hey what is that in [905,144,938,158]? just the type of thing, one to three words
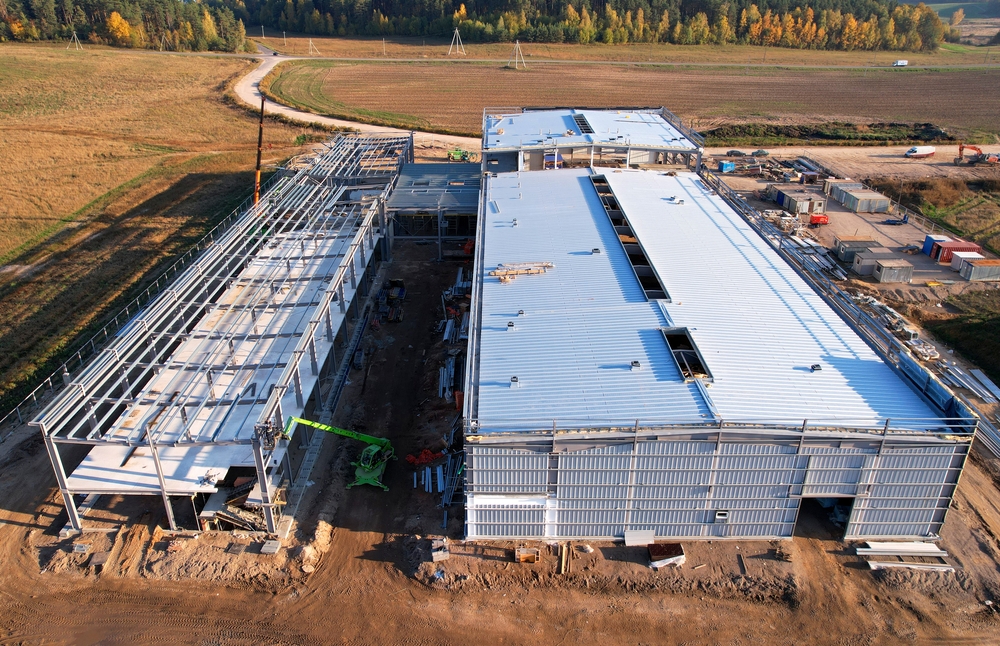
vehicle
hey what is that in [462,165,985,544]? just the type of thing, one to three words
building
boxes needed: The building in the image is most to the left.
[25,128,416,545]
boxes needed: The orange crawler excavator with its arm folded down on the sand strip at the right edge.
[956,142,1000,166]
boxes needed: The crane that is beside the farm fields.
[234,94,269,240]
